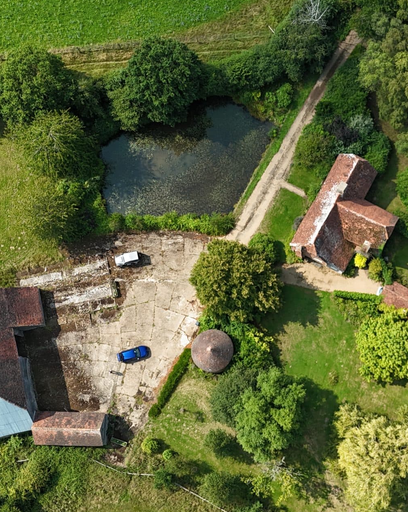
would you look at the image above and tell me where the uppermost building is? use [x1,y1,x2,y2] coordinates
[289,155,399,276]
